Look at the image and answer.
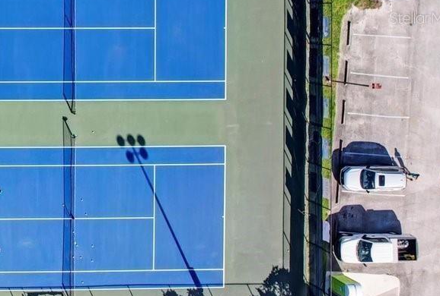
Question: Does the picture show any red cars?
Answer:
No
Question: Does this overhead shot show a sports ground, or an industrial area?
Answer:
sports ground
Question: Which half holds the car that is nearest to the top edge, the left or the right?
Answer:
right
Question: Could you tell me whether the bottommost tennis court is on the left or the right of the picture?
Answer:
left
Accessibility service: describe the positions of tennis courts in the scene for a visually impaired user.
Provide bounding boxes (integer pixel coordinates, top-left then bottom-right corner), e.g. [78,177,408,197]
[0,0,227,101]
[0,145,227,291]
